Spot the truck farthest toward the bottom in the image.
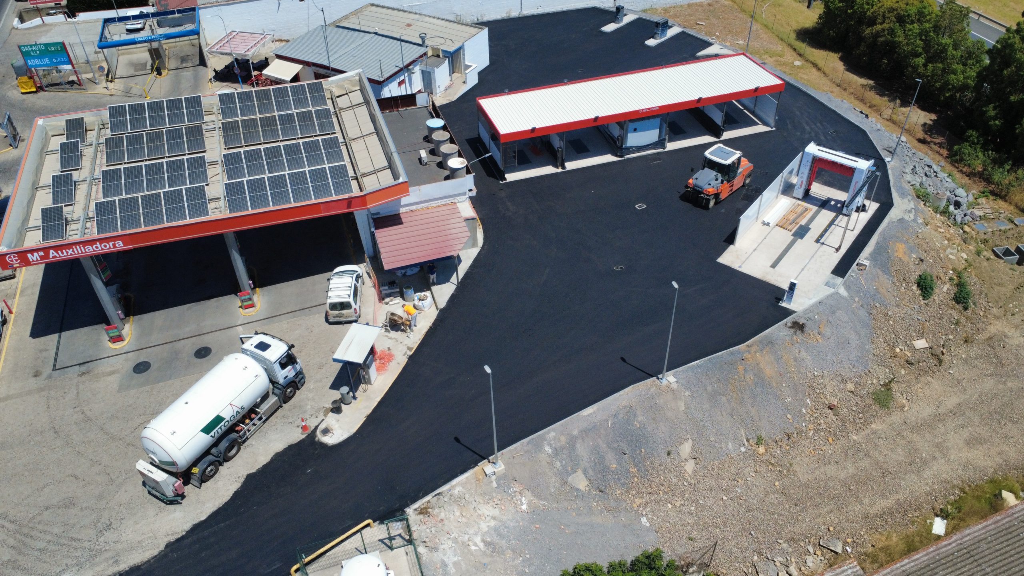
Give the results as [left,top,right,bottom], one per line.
[134,334,306,509]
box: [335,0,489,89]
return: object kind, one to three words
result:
building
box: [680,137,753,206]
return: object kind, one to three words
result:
work vehicle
